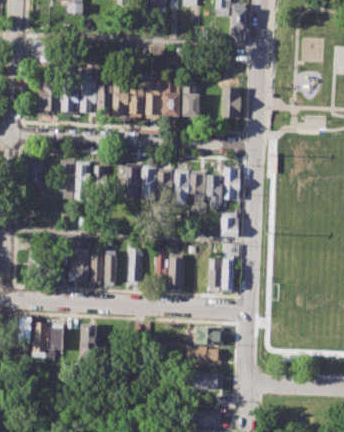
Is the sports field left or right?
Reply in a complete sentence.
You can find the sports field on the right side of the picture.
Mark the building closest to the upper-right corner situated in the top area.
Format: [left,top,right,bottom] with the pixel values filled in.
[232,2,247,28]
